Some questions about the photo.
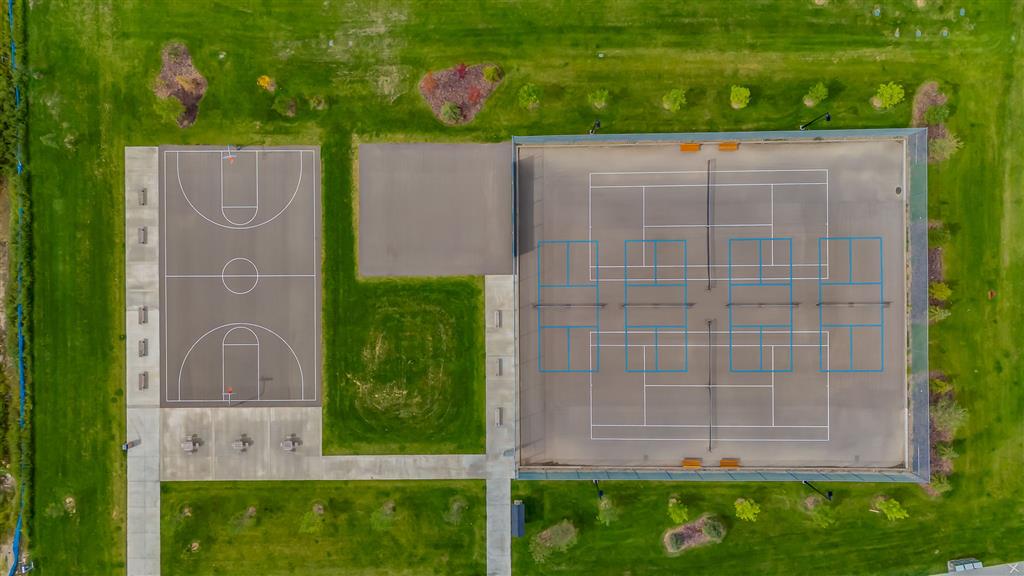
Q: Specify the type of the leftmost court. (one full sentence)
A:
It turns out the leftmost court is a basketball court.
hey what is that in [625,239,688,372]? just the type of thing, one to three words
sports court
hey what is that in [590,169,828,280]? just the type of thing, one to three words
tennis court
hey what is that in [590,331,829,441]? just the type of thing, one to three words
tennis court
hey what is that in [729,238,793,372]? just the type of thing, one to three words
sports court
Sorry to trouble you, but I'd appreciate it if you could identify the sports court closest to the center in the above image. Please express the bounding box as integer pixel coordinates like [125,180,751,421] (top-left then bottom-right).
[538,240,600,372]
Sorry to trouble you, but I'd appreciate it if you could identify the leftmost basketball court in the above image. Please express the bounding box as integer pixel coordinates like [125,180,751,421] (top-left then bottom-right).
[159,147,322,407]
